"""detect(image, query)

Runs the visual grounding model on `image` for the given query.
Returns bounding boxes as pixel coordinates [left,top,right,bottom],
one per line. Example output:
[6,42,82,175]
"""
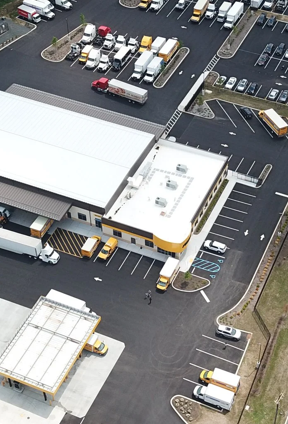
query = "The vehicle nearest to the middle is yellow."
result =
[99,237,119,262]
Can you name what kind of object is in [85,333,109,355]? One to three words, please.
truck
